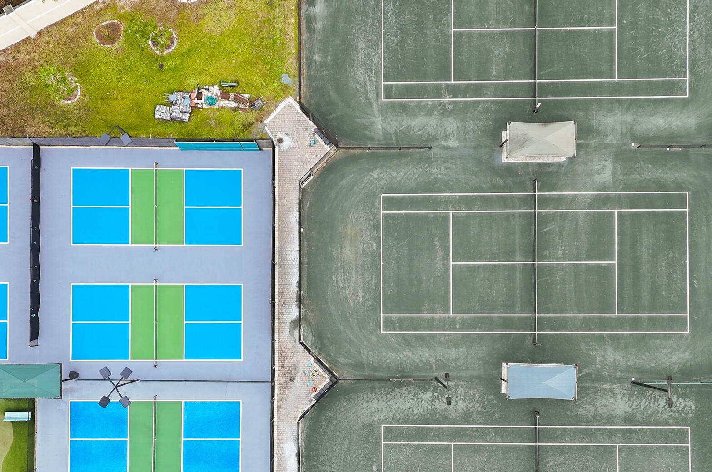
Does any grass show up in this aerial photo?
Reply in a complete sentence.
Yes, grass shows up in the scene.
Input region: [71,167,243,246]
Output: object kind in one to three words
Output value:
sports court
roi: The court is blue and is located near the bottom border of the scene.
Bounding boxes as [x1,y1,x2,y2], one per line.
[68,400,242,472]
